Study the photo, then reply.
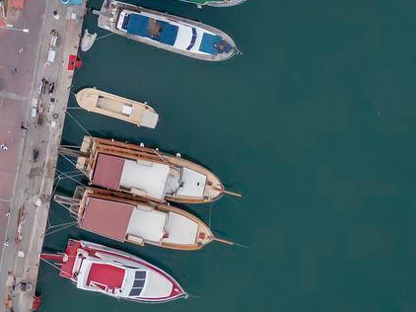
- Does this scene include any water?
Yes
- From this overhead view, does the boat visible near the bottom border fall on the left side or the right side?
left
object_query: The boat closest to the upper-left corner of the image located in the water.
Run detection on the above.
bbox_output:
[80,29,97,51]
